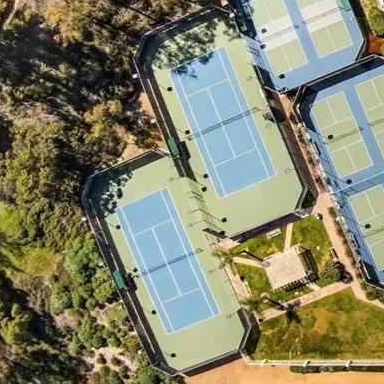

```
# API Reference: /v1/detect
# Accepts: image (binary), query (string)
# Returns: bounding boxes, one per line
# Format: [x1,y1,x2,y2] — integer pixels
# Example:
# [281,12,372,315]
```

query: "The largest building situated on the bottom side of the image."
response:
[261,242,313,291]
